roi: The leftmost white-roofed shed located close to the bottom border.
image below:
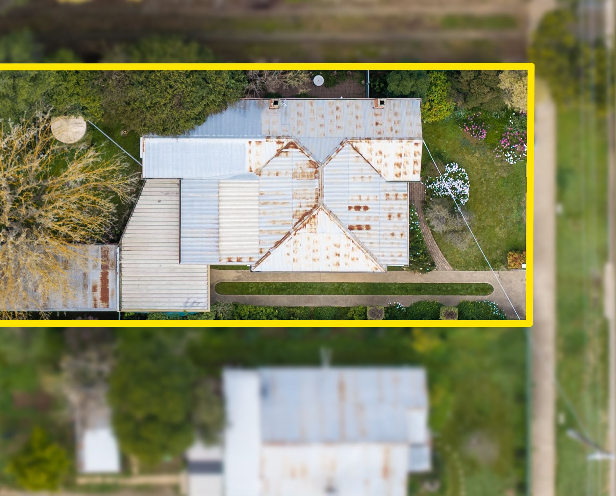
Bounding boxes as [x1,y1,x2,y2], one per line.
[81,425,120,473]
